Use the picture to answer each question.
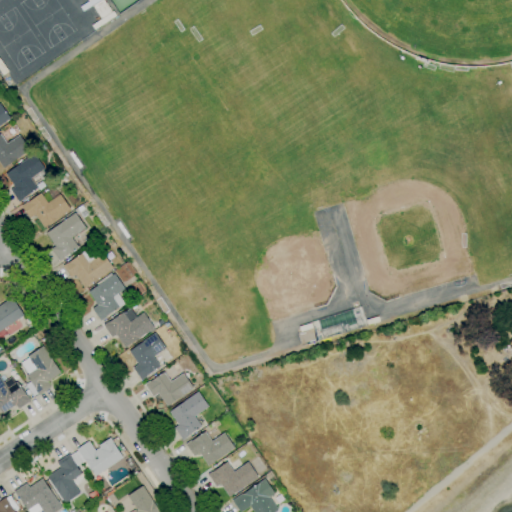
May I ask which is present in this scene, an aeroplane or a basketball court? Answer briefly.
basketball court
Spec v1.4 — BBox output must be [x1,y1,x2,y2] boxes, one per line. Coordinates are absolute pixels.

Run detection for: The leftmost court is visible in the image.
[0,7,46,70]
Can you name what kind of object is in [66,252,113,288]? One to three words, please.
house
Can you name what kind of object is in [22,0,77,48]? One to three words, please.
basketball court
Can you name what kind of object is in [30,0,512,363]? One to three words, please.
sports field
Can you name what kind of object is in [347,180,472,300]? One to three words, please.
baseball field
